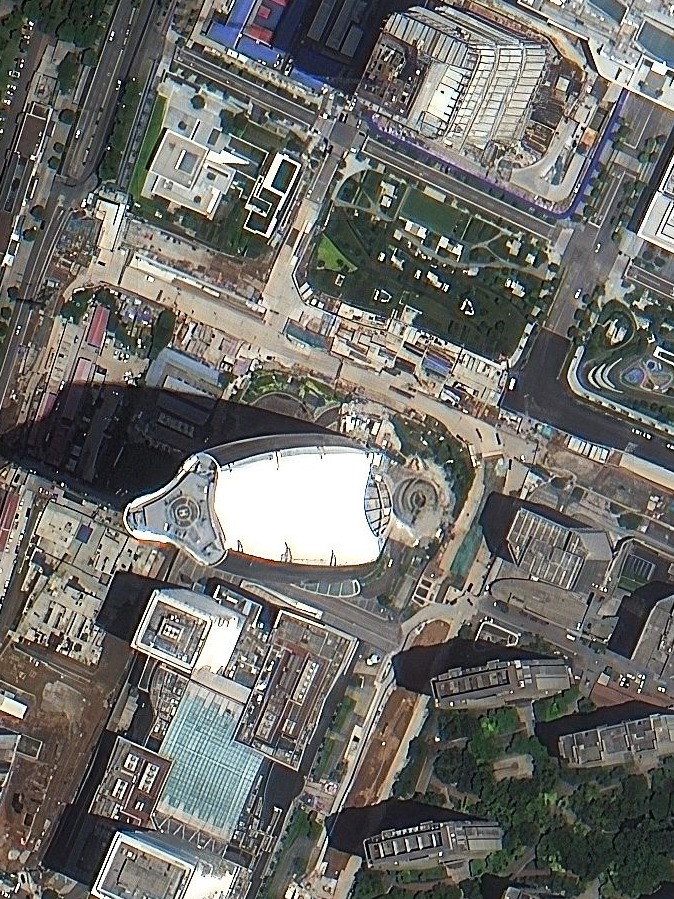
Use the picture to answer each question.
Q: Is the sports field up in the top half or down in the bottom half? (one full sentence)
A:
The top half of the photo is where the sports field is.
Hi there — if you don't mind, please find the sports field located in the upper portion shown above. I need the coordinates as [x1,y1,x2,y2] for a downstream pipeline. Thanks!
[400,188,471,241]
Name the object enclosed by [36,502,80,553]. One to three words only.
building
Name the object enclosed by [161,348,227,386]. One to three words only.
shed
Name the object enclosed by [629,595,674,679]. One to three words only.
building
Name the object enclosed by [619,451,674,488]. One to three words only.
shed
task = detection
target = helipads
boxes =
[168,494,200,529]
